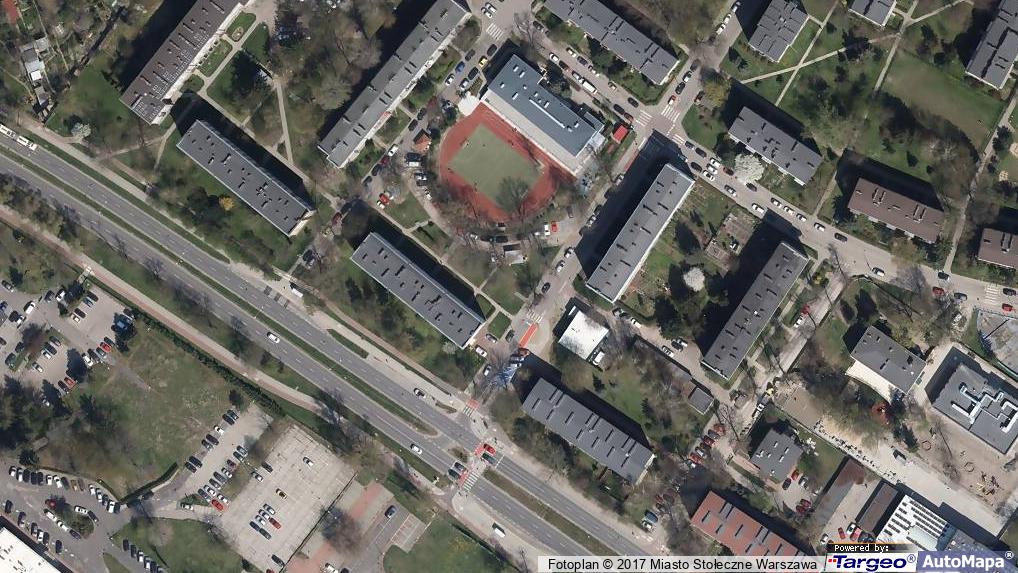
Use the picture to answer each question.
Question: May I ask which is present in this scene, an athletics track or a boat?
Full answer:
Of the two, only an athletics track appears.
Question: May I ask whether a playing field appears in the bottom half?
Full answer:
No, there's no playing field to be seen in the bottom half.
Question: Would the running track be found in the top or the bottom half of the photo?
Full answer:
The running track is in the top half of the image.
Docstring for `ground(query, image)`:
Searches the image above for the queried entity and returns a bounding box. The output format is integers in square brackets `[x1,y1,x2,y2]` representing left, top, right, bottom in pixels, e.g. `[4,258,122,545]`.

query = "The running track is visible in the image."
[439,101,576,222]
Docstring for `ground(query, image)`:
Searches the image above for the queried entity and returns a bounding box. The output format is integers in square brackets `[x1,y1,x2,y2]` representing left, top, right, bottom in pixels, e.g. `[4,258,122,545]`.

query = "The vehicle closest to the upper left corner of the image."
[0,121,40,152]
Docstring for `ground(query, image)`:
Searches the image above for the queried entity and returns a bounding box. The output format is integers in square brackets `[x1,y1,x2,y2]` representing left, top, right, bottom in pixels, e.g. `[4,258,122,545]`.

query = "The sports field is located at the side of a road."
[439,101,576,222]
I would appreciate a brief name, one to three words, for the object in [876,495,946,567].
building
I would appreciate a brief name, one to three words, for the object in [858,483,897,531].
shed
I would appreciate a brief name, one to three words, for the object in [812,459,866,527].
shed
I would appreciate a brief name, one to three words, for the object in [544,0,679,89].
building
